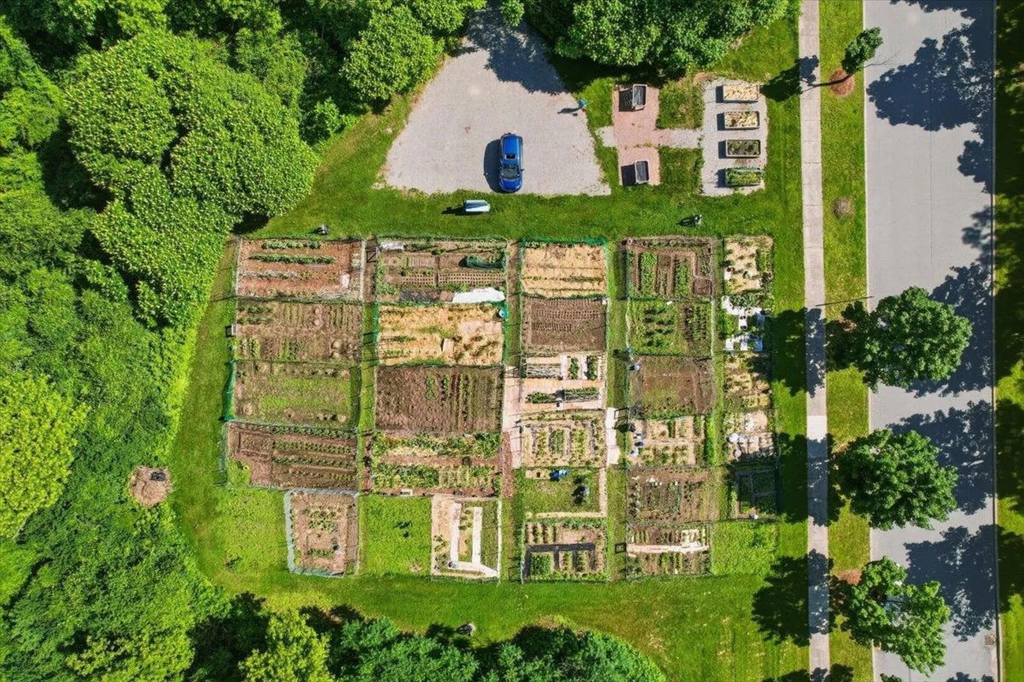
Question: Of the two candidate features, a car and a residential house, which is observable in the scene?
car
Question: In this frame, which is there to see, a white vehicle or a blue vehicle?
blue vehicle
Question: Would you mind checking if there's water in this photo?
No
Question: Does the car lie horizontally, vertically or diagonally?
vertically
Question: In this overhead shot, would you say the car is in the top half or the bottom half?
top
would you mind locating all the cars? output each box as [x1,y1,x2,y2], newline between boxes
[497,131,526,192]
